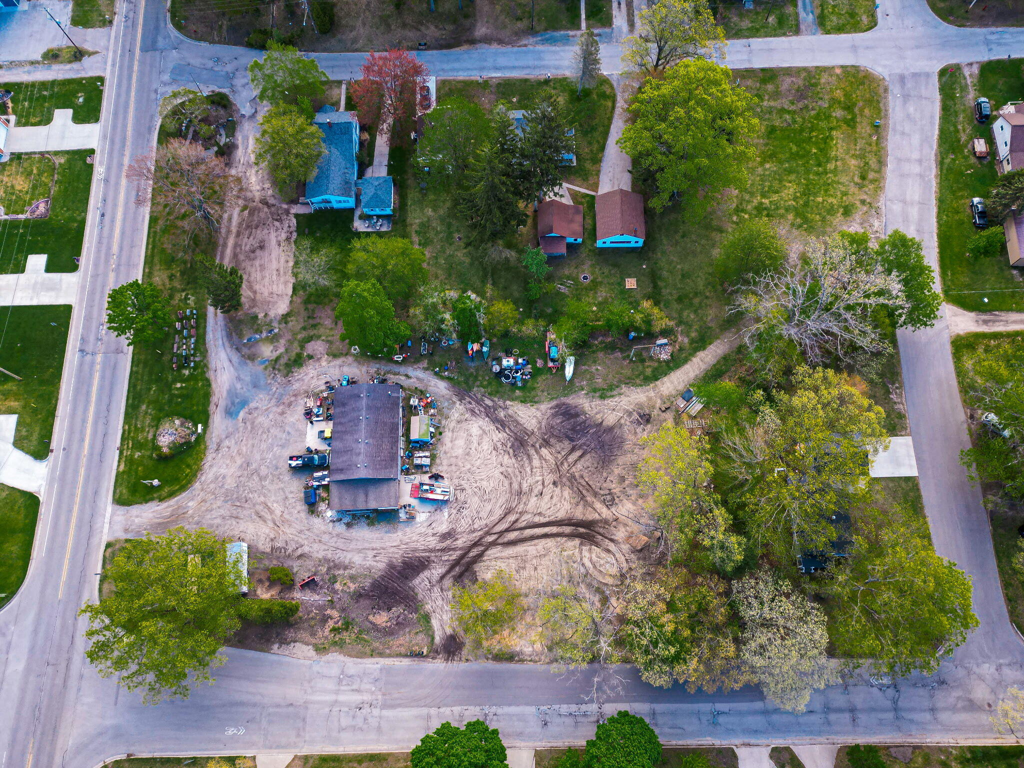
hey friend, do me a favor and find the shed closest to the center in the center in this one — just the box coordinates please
[410,415,432,442]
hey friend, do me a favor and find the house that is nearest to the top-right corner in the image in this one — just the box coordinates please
[989,104,1024,187]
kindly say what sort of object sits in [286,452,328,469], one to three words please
vehicle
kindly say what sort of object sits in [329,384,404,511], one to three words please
building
